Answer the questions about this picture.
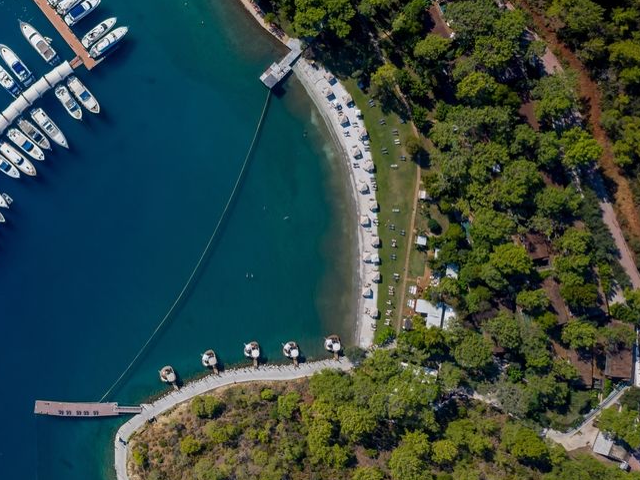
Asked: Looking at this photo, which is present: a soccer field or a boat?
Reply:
boat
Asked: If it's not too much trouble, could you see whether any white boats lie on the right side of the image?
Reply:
No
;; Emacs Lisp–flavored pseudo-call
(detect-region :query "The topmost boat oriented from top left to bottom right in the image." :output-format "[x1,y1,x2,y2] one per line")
[17,18,57,62]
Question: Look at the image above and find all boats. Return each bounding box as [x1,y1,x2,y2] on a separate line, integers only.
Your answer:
[89,26,129,60]
[2,192,12,204]
[19,119,52,149]
[17,18,57,62]
[81,19,117,50]
[48,0,64,8]
[58,0,83,17]
[0,155,21,178]
[31,108,68,148]
[0,65,20,94]
[56,87,81,119]
[66,75,100,113]
[0,142,36,176]
[7,128,44,160]
[0,45,33,84]
[64,0,101,28]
